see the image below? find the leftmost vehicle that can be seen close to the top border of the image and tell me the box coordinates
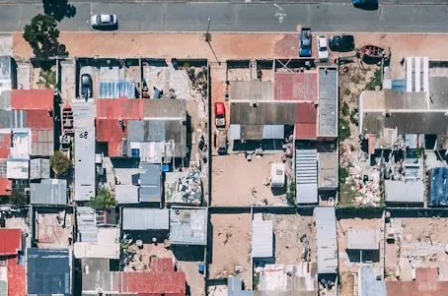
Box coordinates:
[90,12,116,26]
